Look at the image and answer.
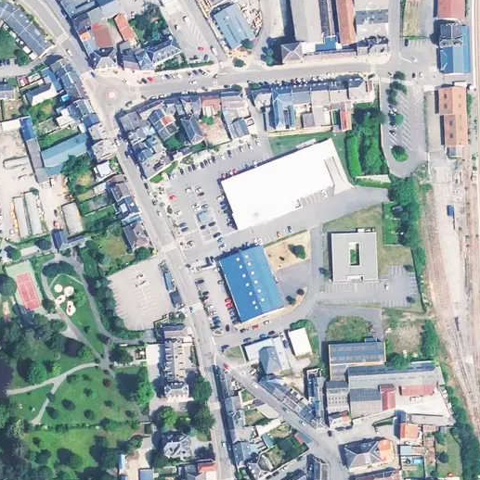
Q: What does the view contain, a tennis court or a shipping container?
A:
tennis court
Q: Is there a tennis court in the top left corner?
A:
No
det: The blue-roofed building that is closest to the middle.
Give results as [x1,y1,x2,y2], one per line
[218,245,284,323]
